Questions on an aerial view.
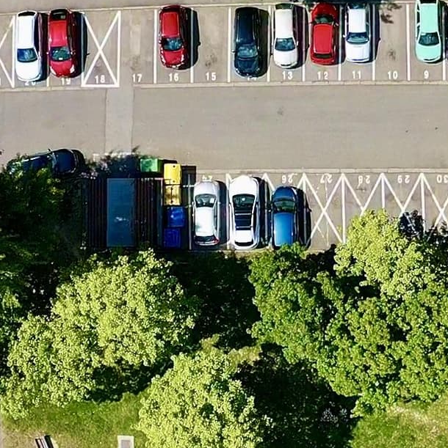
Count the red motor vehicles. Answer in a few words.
three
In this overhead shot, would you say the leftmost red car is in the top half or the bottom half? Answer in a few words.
top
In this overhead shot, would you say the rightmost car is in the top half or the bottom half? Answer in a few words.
top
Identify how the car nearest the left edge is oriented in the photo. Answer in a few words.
vertically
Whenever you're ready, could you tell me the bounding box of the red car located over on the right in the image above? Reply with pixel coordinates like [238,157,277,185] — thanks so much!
[307,5,339,65]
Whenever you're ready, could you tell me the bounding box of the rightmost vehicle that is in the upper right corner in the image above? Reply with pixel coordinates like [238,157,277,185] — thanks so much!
[414,0,446,64]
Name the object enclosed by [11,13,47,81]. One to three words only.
car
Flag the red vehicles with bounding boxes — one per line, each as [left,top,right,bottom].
[157,7,190,70]
[307,5,339,65]
[46,10,80,77]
